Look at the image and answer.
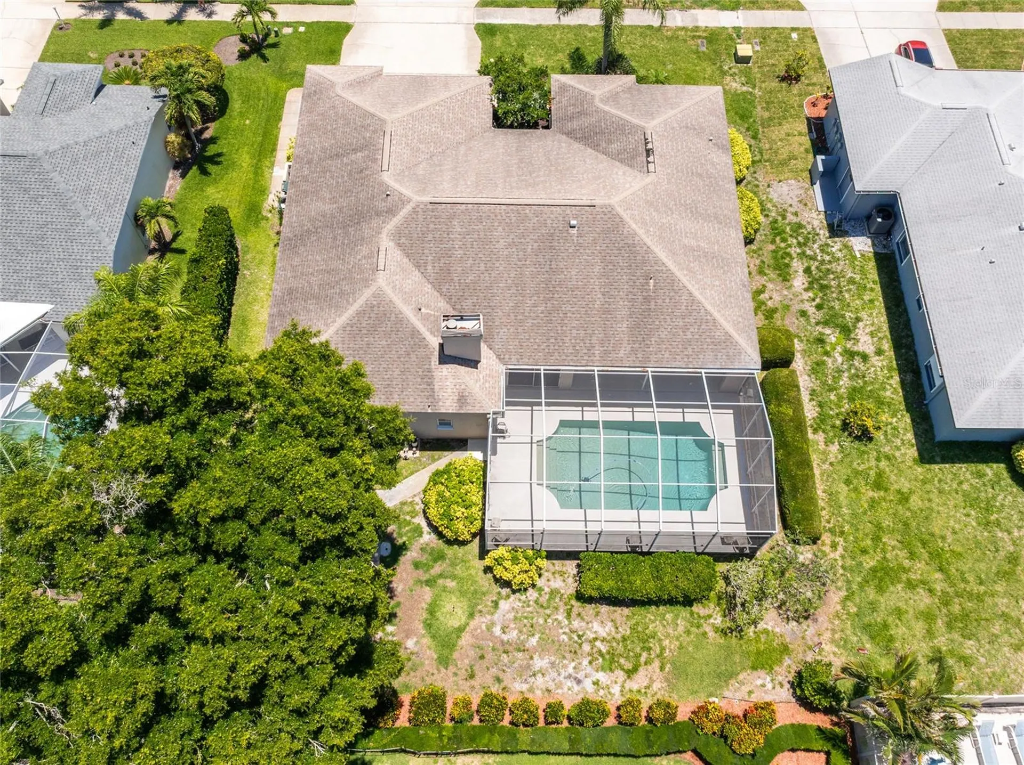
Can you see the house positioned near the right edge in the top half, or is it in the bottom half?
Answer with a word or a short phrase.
top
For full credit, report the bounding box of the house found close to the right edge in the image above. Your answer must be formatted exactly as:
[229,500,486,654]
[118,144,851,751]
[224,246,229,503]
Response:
[820,51,1024,450]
